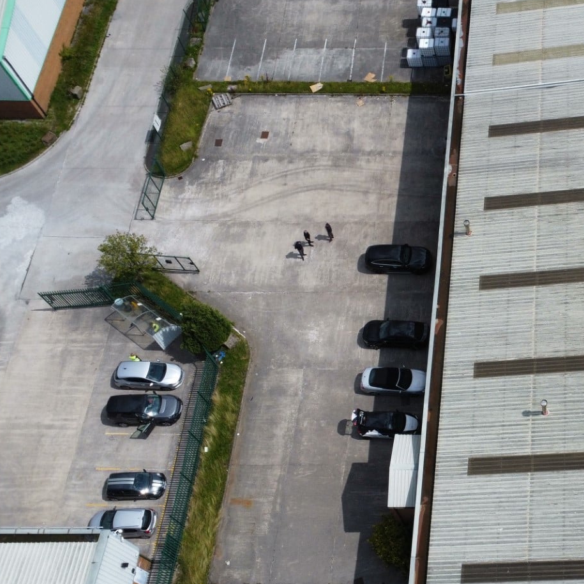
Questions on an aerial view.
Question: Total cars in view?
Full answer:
Looking from above, you can make out 8 cars.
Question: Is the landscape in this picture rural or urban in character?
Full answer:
This place is urban.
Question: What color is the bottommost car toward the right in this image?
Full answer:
In this view, the bottommost car toward the right is black.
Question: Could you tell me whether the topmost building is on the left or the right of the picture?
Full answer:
The topmost building is on the left side of the image.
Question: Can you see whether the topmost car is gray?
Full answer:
No, the topmost car is actually black.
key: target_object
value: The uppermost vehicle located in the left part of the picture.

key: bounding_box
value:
[112,358,185,394]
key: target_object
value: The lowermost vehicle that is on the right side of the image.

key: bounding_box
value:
[349,406,424,442]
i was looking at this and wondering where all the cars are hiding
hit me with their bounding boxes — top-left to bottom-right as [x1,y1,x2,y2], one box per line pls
[112,358,185,394]
[87,504,165,541]
[364,242,434,275]
[357,363,427,399]
[104,390,185,439]
[349,406,424,442]
[360,316,431,352]
[103,468,171,504]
